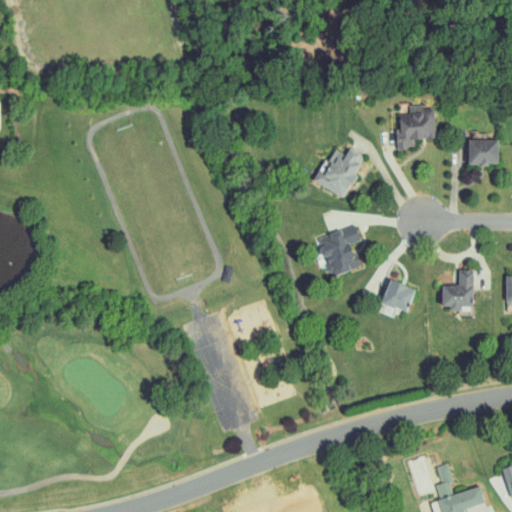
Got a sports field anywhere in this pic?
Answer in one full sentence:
Yes, I can see a sports field in this picture.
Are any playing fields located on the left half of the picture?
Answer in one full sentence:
Yes, there is a playing field on the left half of the picture.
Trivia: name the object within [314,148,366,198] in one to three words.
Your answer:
house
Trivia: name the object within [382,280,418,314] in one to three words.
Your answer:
house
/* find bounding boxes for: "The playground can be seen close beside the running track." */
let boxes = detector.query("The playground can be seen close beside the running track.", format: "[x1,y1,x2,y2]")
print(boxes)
[228,300,297,406]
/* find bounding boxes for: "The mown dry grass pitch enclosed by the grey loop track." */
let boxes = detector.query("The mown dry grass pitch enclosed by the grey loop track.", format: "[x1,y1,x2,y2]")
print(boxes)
[91,110,217,296]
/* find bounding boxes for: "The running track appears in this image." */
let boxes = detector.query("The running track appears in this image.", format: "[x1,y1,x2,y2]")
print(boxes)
[86,106,222,317]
